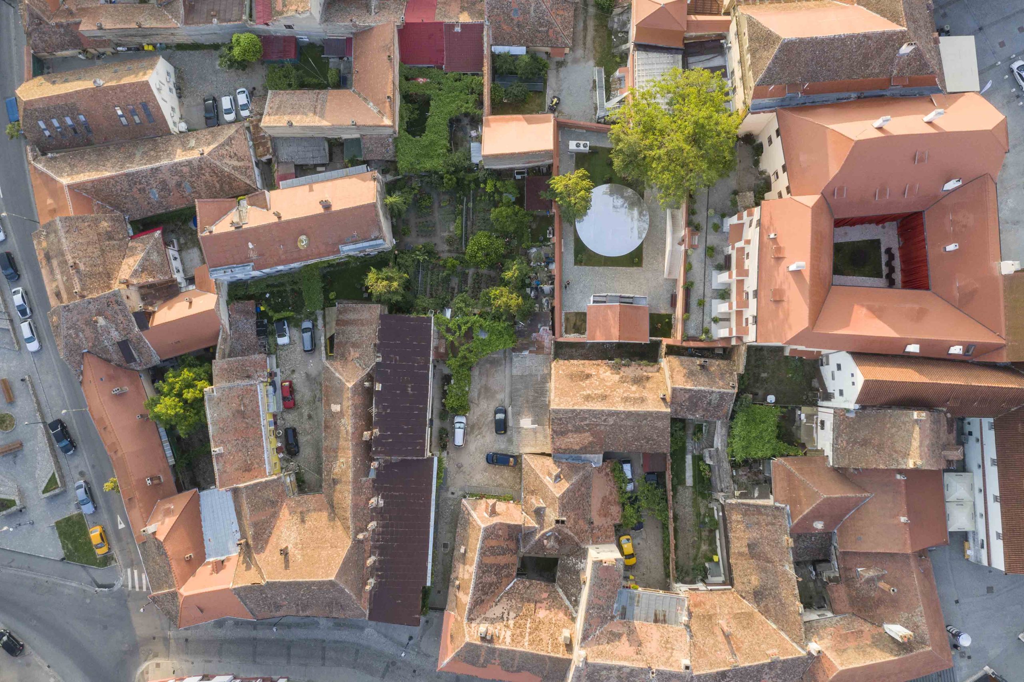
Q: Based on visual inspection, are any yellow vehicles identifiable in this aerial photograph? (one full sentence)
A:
Yes, looking at the shot, I can spot a yellow vehicle.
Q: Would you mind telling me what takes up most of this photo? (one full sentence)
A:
What you mostly see from above here is buildings.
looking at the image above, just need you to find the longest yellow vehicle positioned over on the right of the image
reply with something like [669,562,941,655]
[620,535,637,568]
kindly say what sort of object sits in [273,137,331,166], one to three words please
shed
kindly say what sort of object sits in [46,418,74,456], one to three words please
truck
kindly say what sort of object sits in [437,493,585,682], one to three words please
house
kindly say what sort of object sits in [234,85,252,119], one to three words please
car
